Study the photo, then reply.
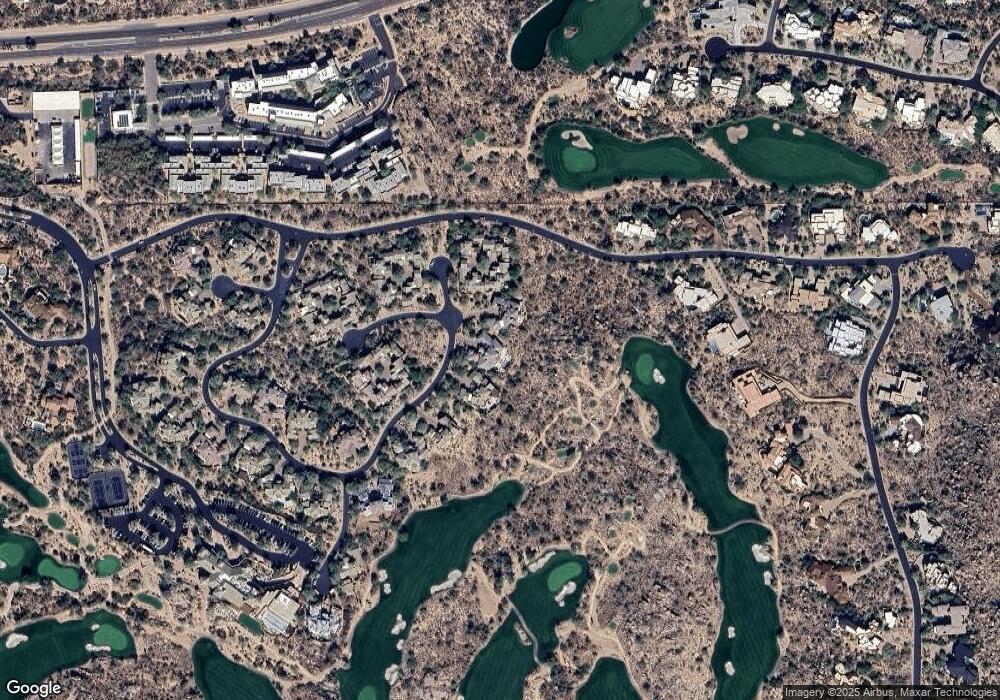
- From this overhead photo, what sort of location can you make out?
residential area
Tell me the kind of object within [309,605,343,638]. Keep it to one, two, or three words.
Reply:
building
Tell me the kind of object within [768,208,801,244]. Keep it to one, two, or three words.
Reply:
house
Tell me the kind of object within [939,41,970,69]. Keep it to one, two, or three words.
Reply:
house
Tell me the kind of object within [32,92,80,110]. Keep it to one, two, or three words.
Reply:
shed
